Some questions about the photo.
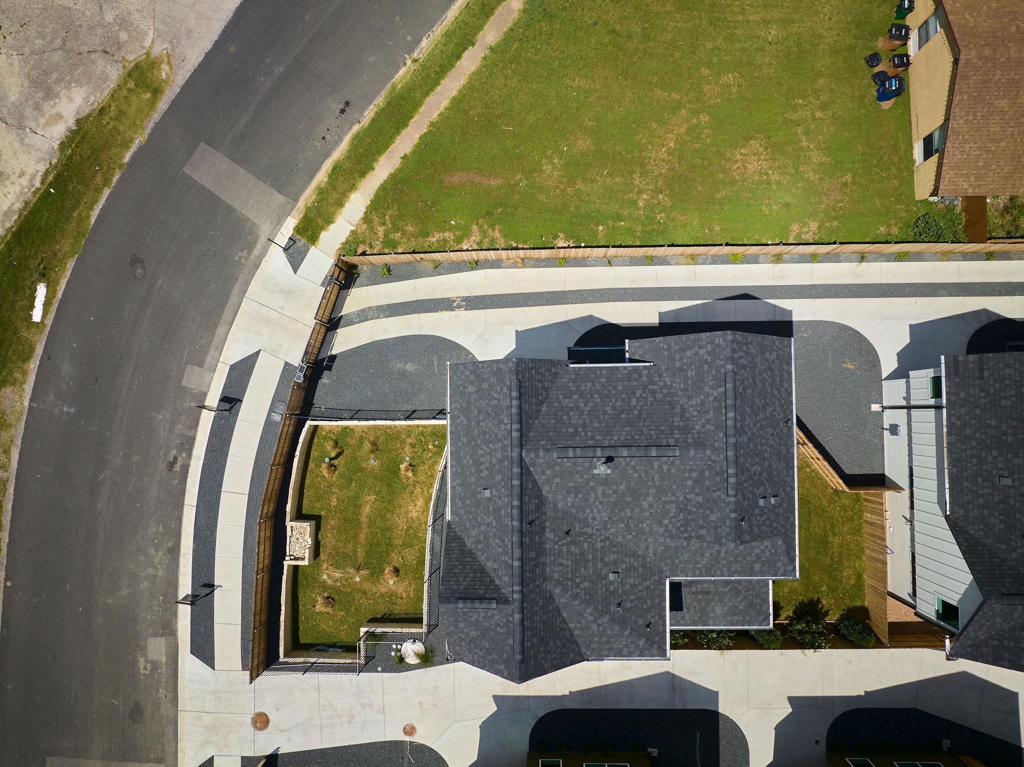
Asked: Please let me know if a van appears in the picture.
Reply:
No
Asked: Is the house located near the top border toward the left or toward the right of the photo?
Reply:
right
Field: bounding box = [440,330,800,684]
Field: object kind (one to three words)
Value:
house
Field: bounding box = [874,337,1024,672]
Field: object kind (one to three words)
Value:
house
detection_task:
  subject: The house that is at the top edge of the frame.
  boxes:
[906,0,1024,200]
